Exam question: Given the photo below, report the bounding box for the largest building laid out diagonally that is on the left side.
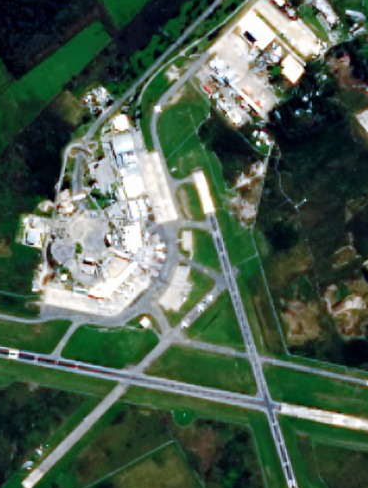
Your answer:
[86,260,139,299]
